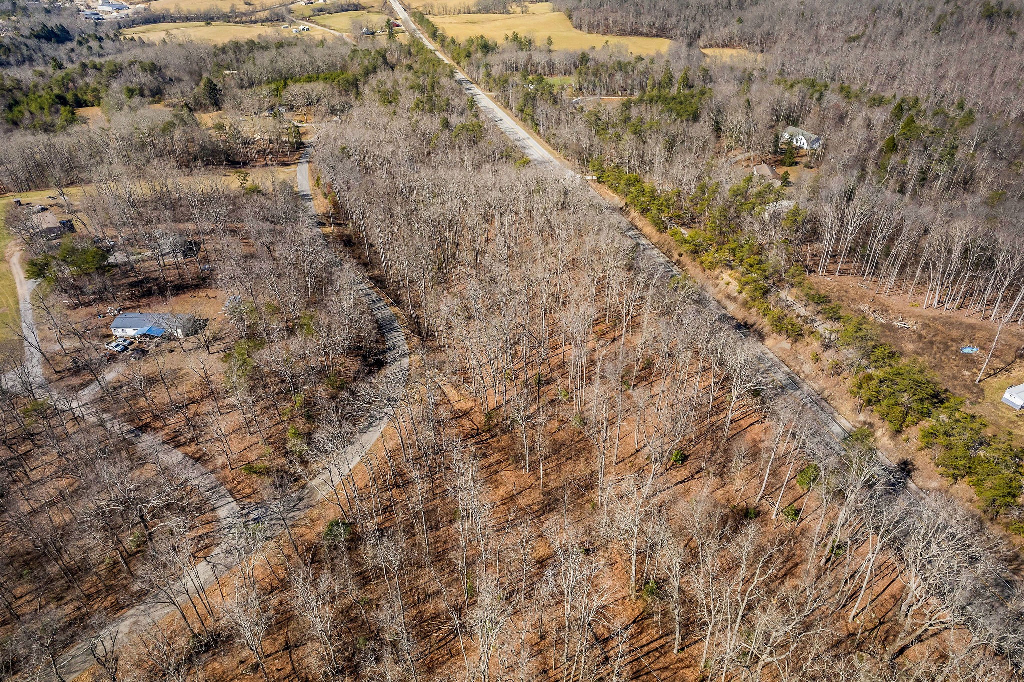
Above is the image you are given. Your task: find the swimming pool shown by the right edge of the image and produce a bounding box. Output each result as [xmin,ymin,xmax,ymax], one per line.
[960,343,983,355]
